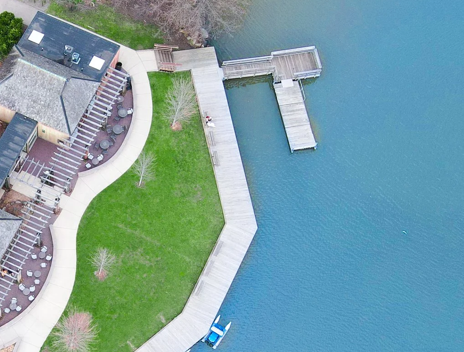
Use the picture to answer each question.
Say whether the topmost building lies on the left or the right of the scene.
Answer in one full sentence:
The topmost building appears in the left half of the scene.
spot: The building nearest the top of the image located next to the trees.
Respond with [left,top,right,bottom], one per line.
[0,12,119,149]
